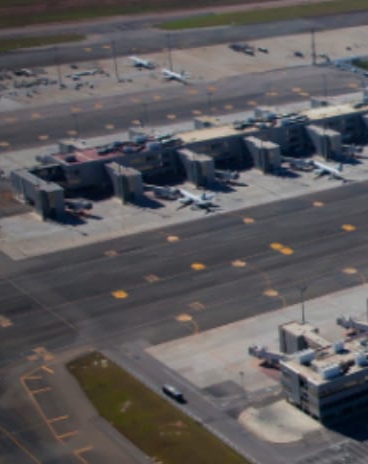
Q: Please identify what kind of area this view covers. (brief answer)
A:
airport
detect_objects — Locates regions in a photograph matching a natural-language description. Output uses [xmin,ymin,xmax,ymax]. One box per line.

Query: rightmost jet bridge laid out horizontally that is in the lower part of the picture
[333,313,368,333]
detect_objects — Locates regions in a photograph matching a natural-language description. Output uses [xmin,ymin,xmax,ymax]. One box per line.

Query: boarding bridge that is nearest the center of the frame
[142,184,183,200]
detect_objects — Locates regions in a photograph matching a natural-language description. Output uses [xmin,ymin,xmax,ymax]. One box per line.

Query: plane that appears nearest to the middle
[170,187,220,204]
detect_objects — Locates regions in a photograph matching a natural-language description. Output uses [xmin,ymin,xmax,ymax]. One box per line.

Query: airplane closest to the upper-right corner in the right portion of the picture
[306,161,350,176]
